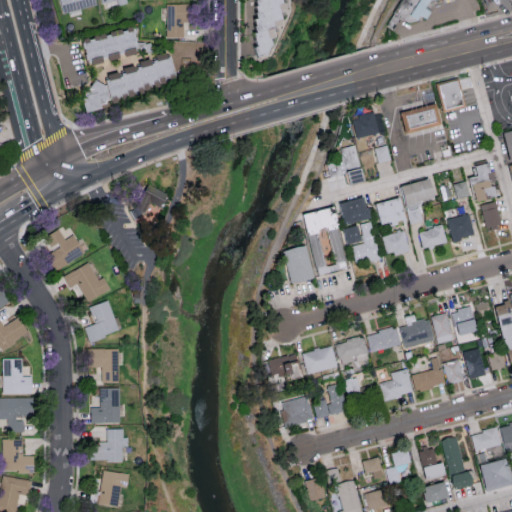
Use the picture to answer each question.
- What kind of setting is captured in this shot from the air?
residential area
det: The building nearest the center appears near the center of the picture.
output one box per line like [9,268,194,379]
[284,247,315,284]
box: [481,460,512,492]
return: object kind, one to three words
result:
building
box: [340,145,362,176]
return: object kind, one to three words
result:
house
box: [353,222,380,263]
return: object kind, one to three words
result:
building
